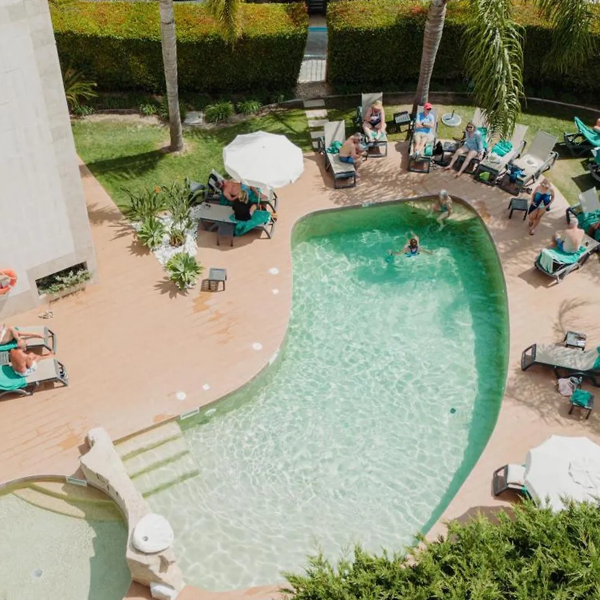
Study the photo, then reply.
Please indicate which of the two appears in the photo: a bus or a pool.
pool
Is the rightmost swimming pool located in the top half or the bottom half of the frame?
bottom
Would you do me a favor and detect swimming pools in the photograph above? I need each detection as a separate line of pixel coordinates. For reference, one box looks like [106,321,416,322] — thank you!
[114,193,513,595]
[0,472,132,600]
